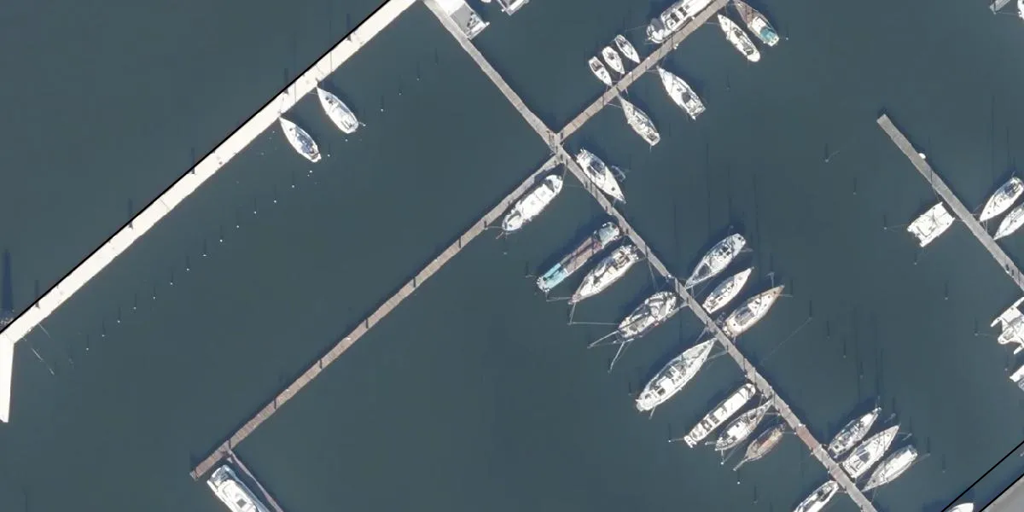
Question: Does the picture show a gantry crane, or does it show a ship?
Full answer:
Looking from above, you can make out a ship.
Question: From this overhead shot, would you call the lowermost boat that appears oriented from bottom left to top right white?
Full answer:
Yes, the lowermost boat that appears oriented from bottom left to top right is indeed white.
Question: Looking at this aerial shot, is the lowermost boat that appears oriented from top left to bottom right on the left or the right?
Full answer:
You can find the lowermost boat that appears oriented from top left to bottom right on the left side of the picture.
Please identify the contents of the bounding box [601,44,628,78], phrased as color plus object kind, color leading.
white boat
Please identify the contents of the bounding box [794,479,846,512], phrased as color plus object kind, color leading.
white boat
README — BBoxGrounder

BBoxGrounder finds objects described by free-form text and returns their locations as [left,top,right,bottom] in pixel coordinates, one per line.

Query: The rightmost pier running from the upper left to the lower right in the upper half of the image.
[877,115,1024,290]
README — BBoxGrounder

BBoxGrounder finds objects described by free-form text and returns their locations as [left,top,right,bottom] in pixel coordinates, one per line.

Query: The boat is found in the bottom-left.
[206,464,273,512]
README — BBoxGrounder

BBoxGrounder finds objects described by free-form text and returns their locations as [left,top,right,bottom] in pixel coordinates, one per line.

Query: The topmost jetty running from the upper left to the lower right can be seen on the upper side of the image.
[424,0,557,145]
